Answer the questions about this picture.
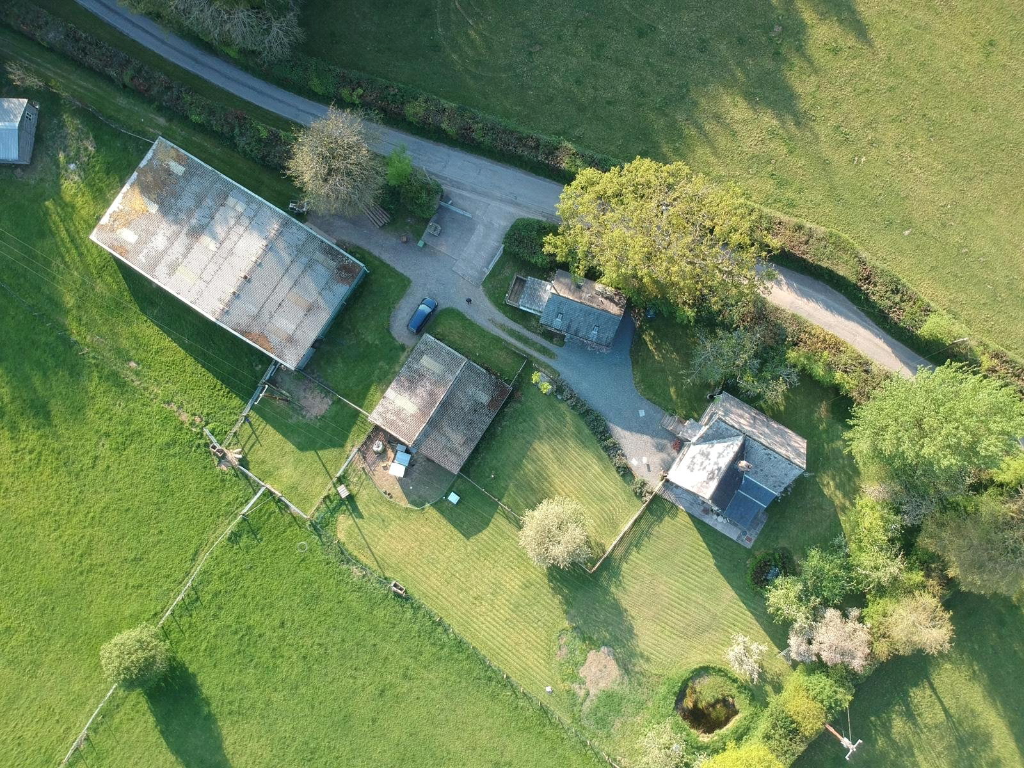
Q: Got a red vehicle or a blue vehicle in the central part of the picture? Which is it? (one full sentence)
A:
The one visible in the central part of the picture is a blue vehicle.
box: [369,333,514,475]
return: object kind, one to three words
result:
barn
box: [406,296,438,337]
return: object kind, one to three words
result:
car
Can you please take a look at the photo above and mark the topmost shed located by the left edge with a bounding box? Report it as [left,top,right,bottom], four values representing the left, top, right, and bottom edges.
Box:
[0,96,37,165]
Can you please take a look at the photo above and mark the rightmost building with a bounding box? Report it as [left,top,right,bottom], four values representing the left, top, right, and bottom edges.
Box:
[665,391,812,526]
